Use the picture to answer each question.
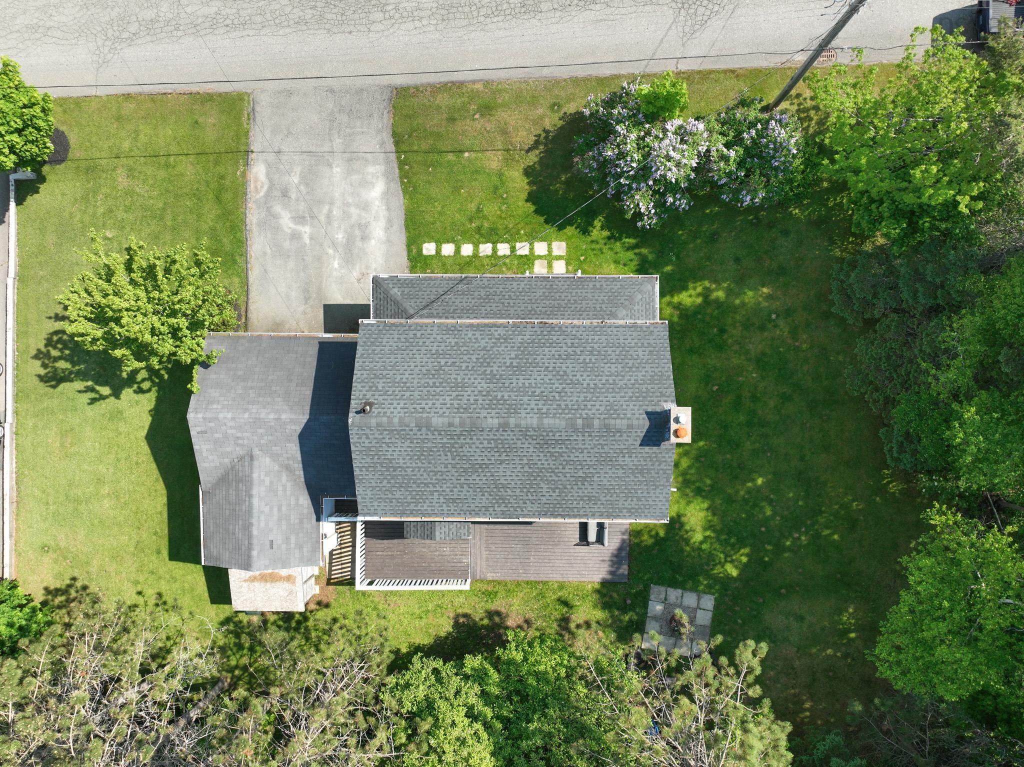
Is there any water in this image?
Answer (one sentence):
No, there's no water in this view.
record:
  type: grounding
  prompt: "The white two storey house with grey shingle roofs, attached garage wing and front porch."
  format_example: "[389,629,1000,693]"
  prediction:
[188,272,691,573]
